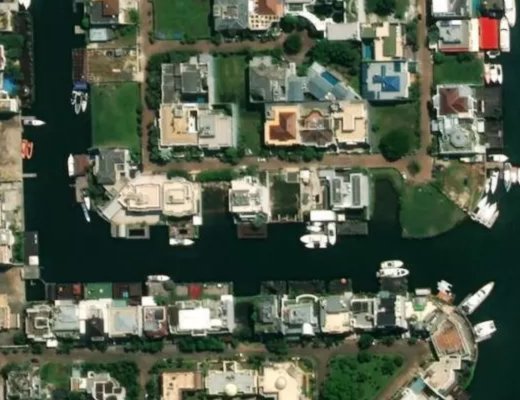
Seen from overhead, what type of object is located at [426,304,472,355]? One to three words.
house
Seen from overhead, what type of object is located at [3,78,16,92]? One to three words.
swimming pool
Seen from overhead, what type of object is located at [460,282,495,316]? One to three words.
boat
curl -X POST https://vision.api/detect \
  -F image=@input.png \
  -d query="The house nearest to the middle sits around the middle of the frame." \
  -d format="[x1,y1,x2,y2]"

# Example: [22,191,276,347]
[230,176,263,223]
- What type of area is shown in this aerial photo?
residential area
